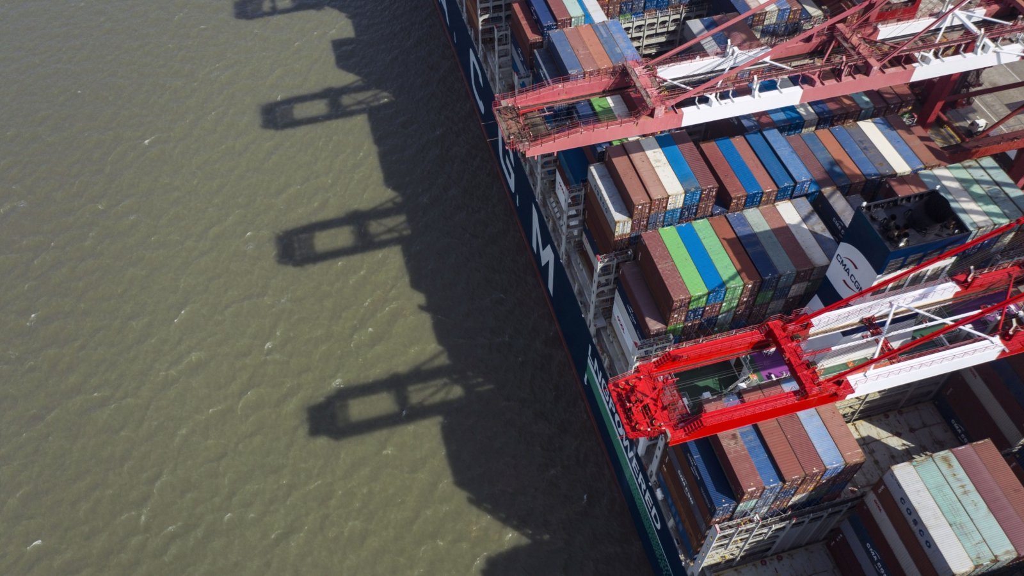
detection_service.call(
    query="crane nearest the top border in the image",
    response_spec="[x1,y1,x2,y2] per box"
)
[804,0,963,64]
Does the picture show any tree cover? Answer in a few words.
No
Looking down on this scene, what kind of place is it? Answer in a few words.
port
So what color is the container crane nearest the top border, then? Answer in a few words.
red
